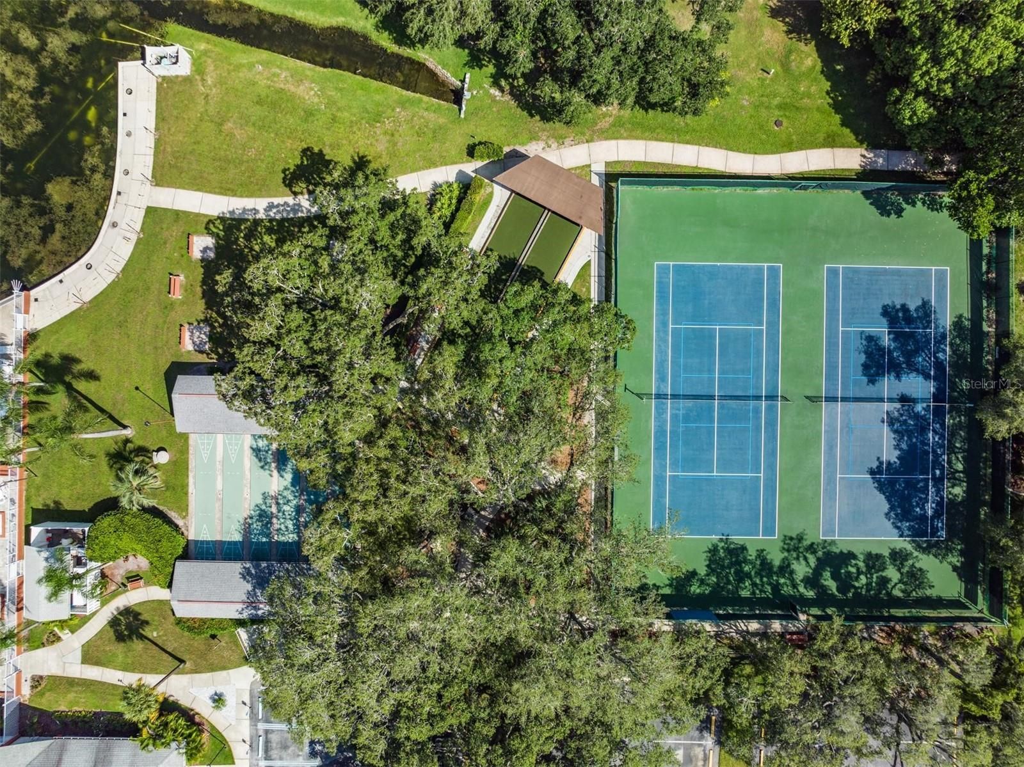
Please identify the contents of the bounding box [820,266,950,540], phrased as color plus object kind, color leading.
blue tennis court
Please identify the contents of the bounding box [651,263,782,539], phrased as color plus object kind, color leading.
blue tennis court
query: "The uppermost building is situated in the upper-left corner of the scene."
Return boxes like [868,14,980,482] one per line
[141,43,191,75]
